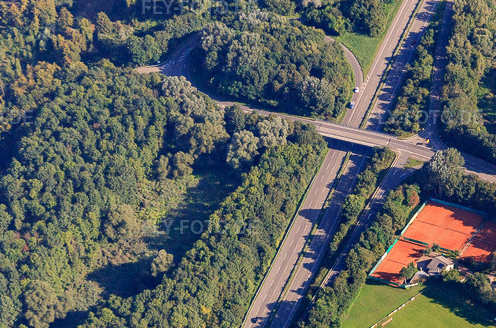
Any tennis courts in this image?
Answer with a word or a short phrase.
Yes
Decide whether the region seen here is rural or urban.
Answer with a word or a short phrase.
rural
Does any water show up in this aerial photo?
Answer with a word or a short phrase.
No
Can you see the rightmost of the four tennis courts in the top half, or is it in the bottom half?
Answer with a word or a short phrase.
bottom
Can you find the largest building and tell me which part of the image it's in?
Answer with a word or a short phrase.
bottom right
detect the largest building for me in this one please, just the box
[429,254,454,277]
